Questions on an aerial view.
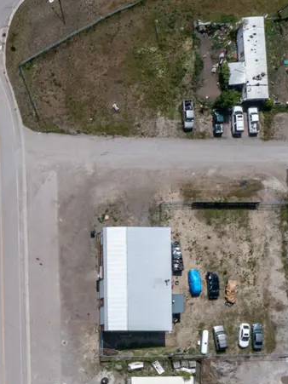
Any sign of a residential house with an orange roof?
No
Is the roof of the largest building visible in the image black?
No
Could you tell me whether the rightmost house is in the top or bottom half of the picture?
top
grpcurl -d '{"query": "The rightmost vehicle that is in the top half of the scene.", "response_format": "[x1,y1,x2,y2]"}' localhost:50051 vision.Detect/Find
[246,108,260,137]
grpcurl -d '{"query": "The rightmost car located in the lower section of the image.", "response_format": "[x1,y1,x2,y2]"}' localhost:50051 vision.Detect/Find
[250,324,264,349]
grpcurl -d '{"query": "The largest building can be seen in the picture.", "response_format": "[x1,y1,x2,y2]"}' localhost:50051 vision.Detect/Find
[96,222,172,331]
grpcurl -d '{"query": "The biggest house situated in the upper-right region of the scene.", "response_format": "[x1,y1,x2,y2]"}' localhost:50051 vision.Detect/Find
[234,16,269,106]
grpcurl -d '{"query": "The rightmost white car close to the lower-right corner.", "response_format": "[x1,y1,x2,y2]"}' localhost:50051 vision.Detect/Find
[236,323,251,348]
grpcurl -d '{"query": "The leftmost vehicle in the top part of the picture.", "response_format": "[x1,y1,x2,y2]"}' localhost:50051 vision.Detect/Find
[181,100,196,131]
